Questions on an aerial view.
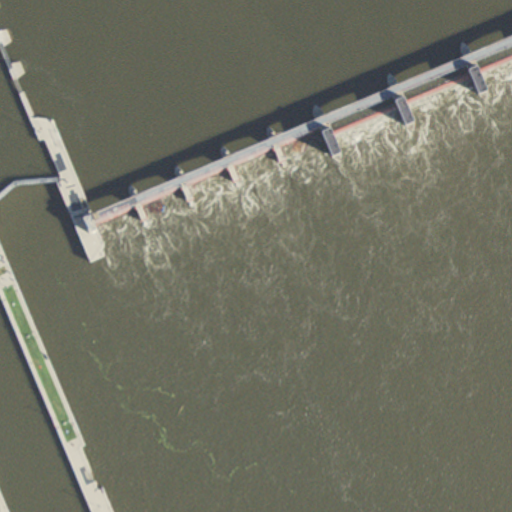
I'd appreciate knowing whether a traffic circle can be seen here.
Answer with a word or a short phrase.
No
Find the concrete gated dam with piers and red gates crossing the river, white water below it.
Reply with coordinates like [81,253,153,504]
[96,42,512,228]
